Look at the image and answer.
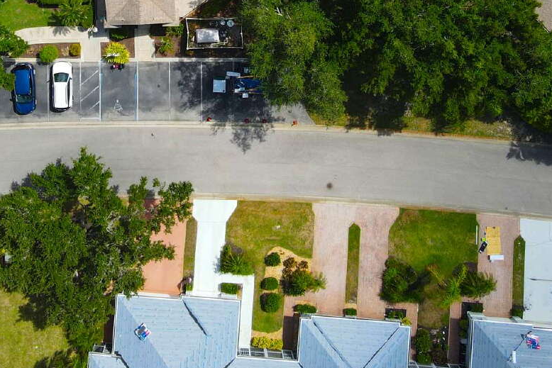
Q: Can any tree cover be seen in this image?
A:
Yes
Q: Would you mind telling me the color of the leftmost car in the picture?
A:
blue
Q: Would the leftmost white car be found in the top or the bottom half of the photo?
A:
top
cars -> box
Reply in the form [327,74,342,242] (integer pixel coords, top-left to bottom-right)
[10,62,35,114]
[48,59,73,112]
